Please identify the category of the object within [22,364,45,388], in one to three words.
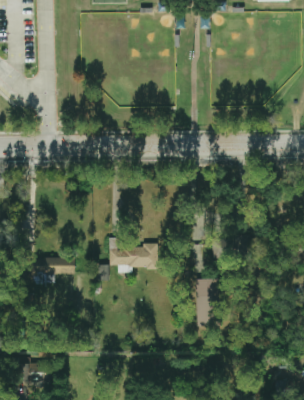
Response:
house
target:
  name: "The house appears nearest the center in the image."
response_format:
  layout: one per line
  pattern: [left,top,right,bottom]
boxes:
[108,238,158,273]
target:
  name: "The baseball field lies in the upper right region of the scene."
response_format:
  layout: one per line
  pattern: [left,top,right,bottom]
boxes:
[210,12,301,106]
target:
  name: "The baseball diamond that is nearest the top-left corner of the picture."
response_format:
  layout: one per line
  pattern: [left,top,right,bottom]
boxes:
[80,12,176,106]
